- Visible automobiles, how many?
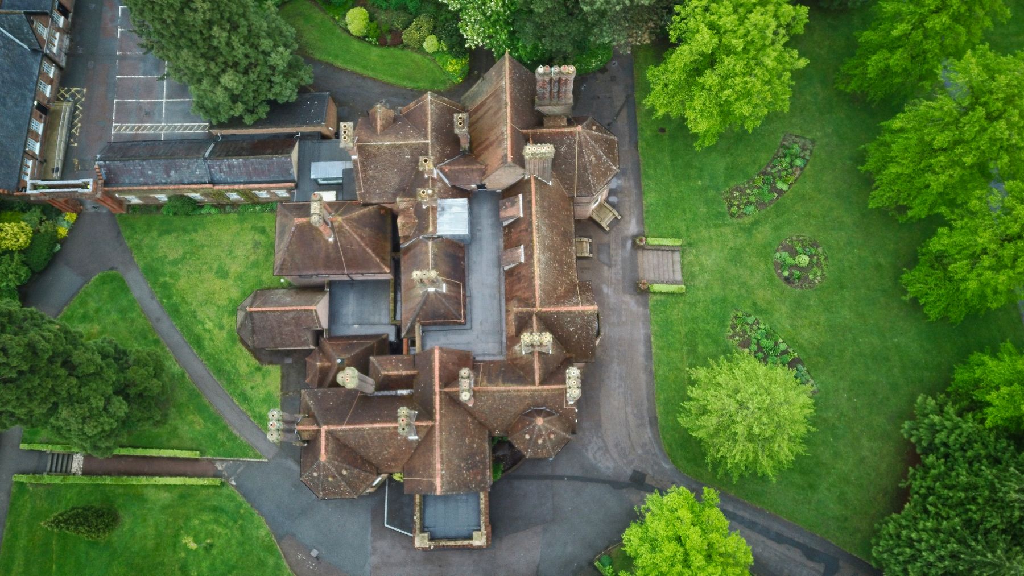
none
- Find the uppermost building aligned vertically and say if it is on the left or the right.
left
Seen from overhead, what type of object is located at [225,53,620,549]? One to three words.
house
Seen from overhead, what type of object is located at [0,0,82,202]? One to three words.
building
